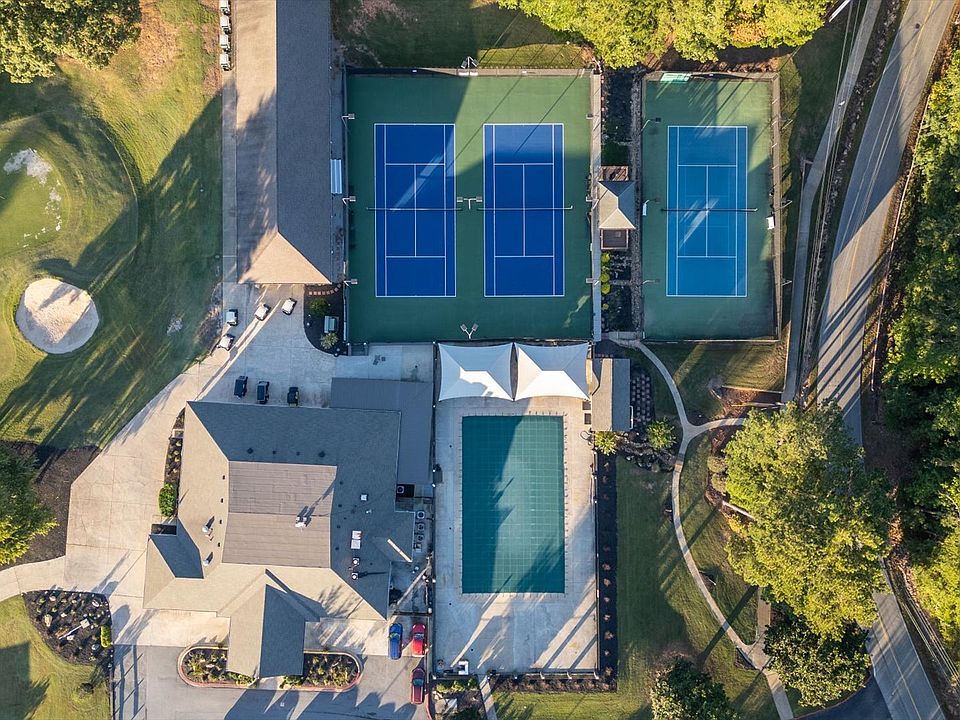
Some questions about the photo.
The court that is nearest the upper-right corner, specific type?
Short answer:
tennis court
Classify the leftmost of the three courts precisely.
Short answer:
tennis court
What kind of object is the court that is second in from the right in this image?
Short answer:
tennis court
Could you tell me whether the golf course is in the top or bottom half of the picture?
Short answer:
top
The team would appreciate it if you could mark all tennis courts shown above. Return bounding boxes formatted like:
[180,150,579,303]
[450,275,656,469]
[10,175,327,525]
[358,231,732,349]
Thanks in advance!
[645,80,775,338]
[346,75,469,342]
[469,75,593,342]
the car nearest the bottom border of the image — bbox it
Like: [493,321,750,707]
[410,669,425,706]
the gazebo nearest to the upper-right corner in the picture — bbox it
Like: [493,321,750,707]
[598,164,636,249]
